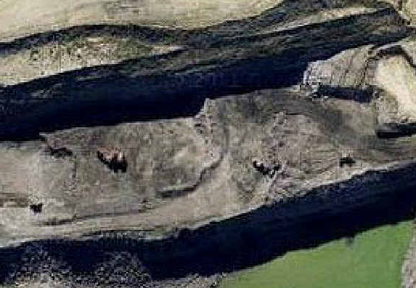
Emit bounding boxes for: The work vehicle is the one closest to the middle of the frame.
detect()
[253,159,274,171]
